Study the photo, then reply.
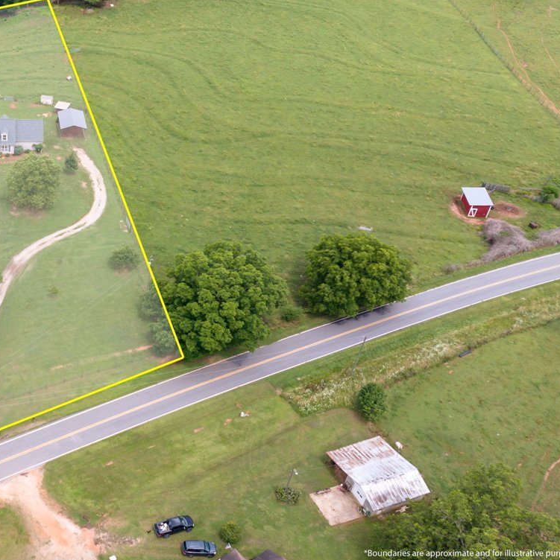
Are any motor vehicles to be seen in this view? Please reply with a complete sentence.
Yes, this view includes a motor vehicle.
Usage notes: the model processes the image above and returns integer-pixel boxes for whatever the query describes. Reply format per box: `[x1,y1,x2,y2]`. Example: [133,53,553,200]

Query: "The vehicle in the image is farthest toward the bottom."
[182,541,217,559]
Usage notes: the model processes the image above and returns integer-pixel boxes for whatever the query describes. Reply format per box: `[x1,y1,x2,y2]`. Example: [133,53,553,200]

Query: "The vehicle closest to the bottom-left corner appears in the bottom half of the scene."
[153,516,194,538]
